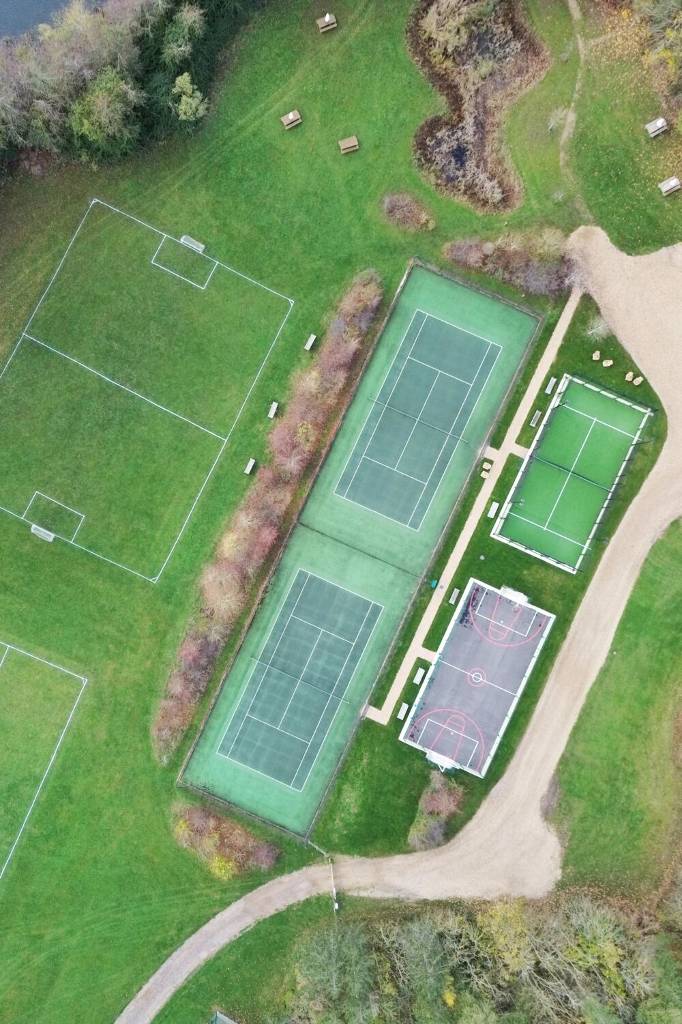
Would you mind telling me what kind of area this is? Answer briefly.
sports ground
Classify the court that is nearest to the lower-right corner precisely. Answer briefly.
basketball court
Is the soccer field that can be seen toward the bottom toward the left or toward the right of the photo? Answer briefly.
left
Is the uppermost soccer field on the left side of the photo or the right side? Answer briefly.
left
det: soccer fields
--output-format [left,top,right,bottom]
[0,200,293,582]
[0,641,86,871]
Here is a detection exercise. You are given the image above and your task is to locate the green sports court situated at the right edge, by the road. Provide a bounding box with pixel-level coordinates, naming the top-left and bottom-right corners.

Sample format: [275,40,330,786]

[493,371,660,573]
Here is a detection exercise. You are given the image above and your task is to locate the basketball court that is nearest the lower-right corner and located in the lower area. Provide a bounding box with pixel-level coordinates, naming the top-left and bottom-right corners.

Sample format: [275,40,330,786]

[399,578,556,778]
